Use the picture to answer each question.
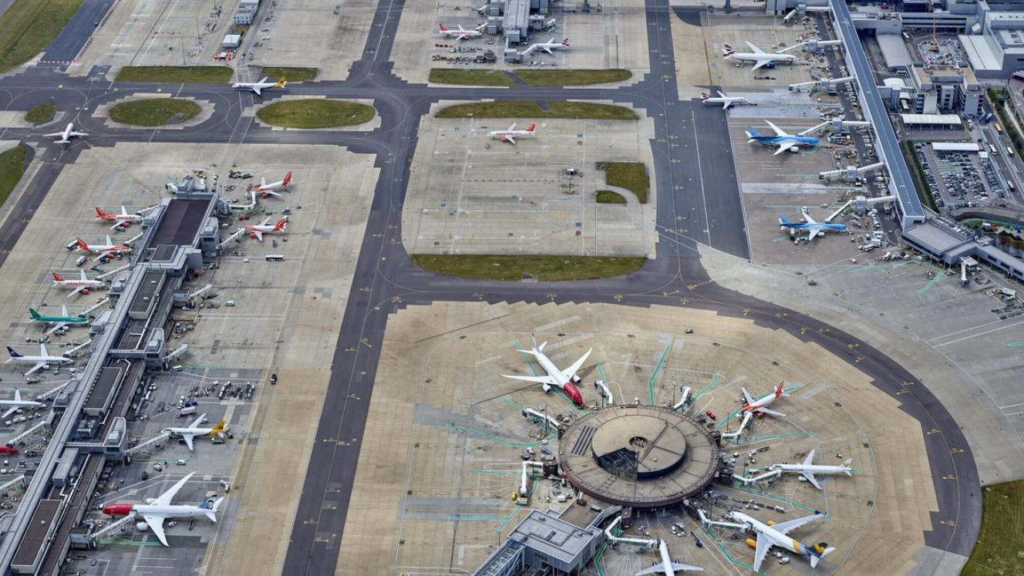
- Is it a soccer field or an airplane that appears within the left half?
airplane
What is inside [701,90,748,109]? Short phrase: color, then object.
white airplane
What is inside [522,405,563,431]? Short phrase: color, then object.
white jet bridge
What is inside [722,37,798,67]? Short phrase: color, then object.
white airplane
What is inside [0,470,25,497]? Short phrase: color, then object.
white jet bridge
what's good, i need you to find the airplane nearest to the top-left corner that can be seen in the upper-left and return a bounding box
[44,123,89,142]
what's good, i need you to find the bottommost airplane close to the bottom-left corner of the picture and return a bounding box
[102,469,223,543]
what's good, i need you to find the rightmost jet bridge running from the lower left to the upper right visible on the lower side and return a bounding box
[721,410,753,444]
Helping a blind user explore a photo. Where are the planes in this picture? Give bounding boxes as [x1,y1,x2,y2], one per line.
[7,338,71,374]
[0,441,20,456]
[637,548,706,576]
[722,37,798,67]
[50,267,103,295]
[730,499,843,569]
[701,90,748,109]
[28,302,88,333]
[507,331,594,403]
[769,448,852,488]
[247,213,291,238]
[102,469,223,543]
[0,380,46,420]
[745,116,820,152]
[172,412,228,450]
[739,375,791,415]
[528,35,567,55]
[779,208,848,240]
[232,75,286,93]
[438,23,482,41]
[487,120,536,141]
[93,204,142,228]
[245,169,295,196]
[76,231,131,261]
[44,123,89,142]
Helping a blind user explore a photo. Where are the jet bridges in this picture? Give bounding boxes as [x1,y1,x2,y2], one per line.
[960,258,968,287]
[121,429,175,460]
[91,510,140,543]
[189,282,216,304]
[721,410,753,444]
[823,193,895,224]
[796,118,868,136]
[0,470,25,497]
[123,230,142,248]
[3,416,46,447]
[163,183,180,196]
[216,227,249,251]
[61,335,94,358]
[522,405,563,431]
[696,505,753,535]
[520,458,546,496]
[593,379,616,408]
[671,384,690,413]
[732,468,784,489]
[542,18,558,33]
[229,189,257,213]
[786,73,853,92]
[816,159,883,182]
[77,295,111,317]
[603,513,662,551]
[160,341,189,367]
[93,261,130,282]
[774,39,840,53]
[34,376,73,401]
